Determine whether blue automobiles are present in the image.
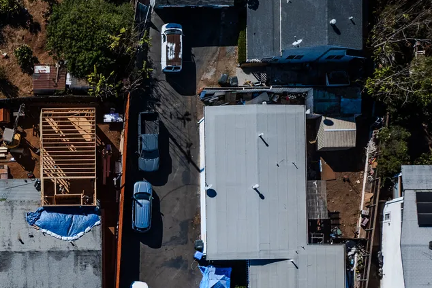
Yes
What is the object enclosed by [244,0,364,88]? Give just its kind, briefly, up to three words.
house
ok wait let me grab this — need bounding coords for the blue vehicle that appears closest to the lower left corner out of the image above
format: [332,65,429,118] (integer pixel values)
[131,180,156,233]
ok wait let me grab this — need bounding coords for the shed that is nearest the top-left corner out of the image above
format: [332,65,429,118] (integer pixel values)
[32,65,66,95]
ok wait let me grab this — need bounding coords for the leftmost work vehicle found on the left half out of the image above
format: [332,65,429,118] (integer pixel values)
[4,103,27,156]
